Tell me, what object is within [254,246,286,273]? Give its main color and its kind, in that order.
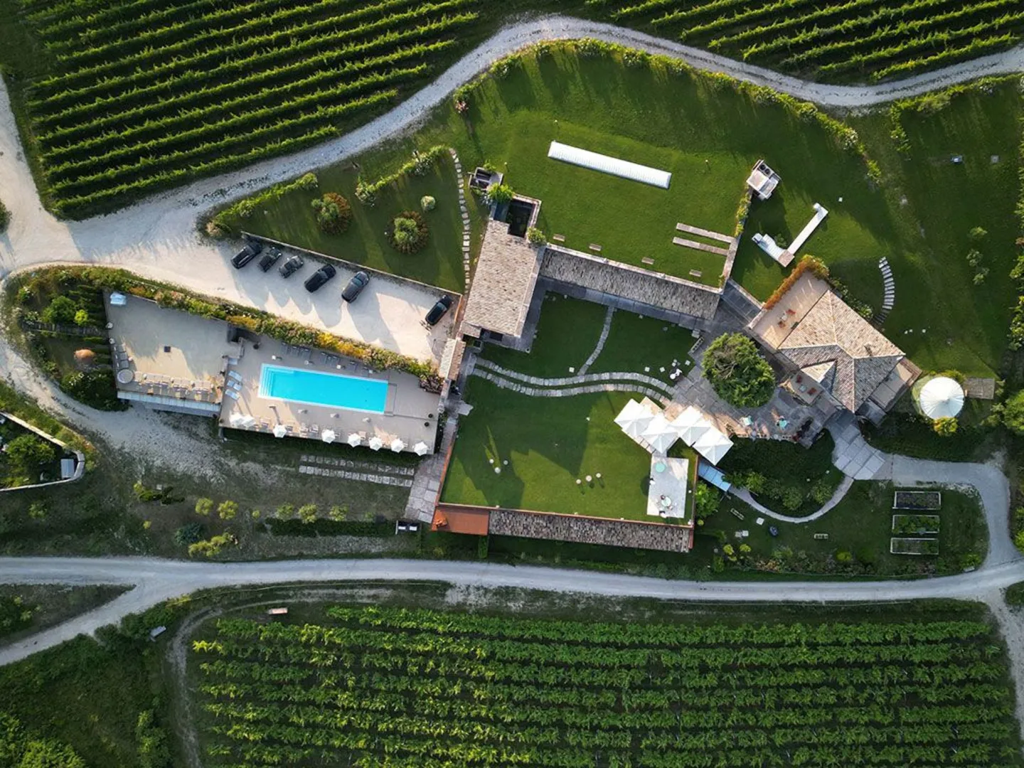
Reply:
black car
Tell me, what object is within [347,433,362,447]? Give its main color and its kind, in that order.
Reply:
white umbrella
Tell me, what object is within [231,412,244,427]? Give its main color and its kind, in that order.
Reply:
white umbrella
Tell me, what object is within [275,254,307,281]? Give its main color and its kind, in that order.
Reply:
gray car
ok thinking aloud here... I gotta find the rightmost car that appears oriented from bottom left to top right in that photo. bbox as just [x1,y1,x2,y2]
[421,293,455,328]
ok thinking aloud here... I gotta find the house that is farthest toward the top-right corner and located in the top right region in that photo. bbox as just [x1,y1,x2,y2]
[744,158,784,201]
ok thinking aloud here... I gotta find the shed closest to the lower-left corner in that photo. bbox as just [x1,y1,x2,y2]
[61,459,80,478]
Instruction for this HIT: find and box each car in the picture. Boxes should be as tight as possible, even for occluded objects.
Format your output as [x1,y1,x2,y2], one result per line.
[302,263,339,295]
[275,254,307,281]
[254,246,286,273]
[229,241,266,272]
[339,270,372,304]
[421,293,455,328]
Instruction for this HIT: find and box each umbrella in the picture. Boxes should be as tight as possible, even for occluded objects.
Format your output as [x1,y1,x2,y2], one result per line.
[231,412,244,427]
[670,406,707,446]
[614,399,654,437]
[639,413,677,453]
[693,419,734,465]
[243,414,257,427]
[322,429,336,443]
[347,433,362,447]
[414,442,429,455]
[274,423,287,438]
[369,437,383,450]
